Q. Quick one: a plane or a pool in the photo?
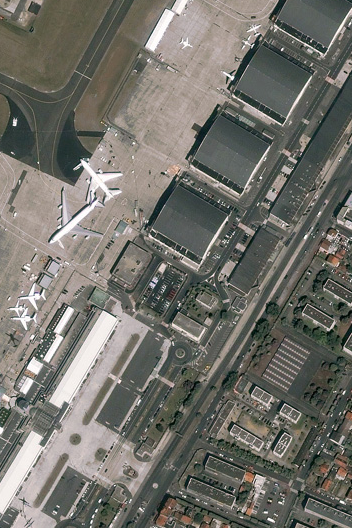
plane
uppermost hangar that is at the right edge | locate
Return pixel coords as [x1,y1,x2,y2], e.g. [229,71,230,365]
[273,0,352,57]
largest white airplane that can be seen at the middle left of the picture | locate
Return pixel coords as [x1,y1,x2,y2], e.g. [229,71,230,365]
[50,188,106,243]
